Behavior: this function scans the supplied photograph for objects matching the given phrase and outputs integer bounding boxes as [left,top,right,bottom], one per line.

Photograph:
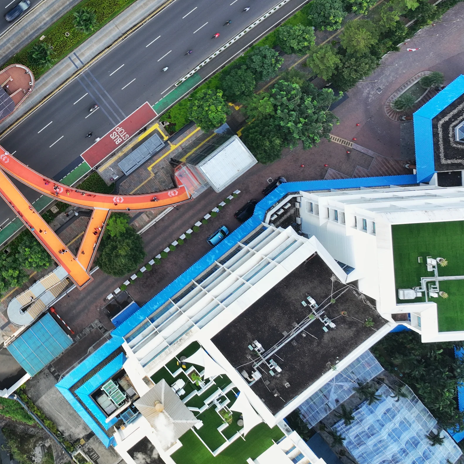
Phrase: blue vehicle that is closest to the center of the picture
[206,225,229,247]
